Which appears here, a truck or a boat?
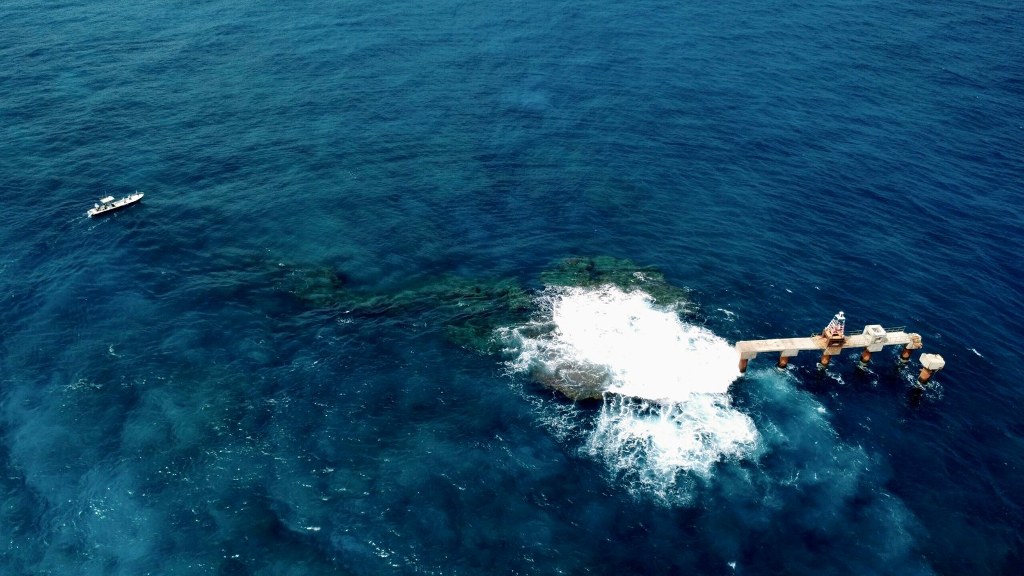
boat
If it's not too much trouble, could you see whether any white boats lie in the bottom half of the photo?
No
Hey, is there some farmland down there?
No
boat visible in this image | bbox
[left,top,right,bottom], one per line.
[83,189,143,217]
